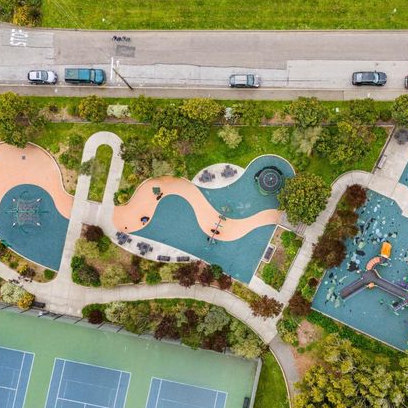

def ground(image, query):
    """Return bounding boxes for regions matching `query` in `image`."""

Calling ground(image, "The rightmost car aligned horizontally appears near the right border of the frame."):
[352,70,388,87]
